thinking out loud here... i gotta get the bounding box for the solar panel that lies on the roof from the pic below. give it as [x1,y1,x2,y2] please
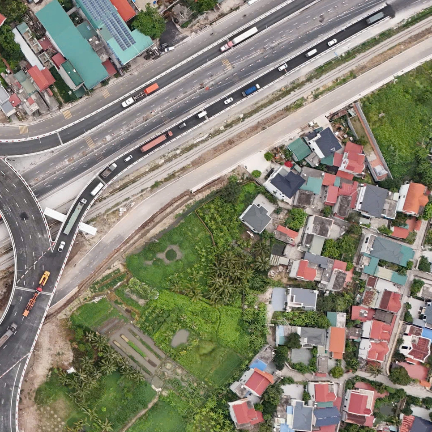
[85,0,135,51]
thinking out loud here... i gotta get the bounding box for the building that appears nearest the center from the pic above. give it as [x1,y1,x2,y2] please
[238,204,273,234]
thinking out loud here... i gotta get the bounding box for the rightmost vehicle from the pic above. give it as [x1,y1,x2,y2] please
[364,9,387,26]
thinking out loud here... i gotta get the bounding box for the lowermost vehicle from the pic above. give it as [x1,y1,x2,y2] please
[0,322,17,348]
